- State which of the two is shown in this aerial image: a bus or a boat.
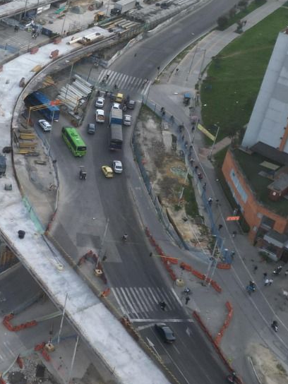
bus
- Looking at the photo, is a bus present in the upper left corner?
Yes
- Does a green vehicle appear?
Yes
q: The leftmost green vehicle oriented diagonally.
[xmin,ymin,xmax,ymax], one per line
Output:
[58,124,89,158]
